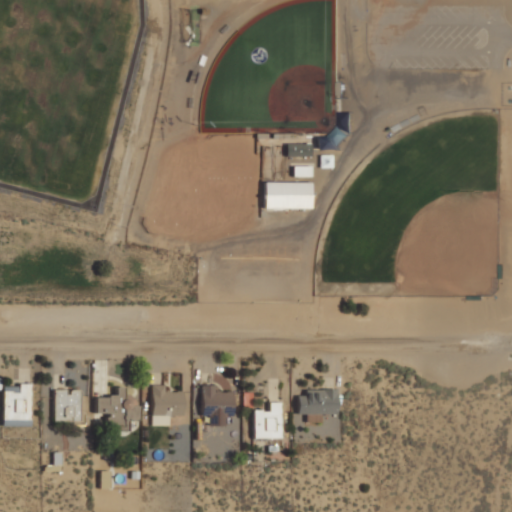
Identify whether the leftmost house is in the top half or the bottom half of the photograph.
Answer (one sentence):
You can find the leftmost house in the bottom half.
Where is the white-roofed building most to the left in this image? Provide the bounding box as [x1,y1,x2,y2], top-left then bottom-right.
[4,384,32,426]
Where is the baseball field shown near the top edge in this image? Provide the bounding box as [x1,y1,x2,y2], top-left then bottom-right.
[199,0,336,132]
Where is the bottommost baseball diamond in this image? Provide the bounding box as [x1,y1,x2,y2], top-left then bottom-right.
[316,109,498,296]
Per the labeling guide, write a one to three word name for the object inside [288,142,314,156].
shed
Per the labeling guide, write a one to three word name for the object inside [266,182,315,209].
shed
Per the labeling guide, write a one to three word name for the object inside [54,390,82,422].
house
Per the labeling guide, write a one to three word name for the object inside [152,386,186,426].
house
